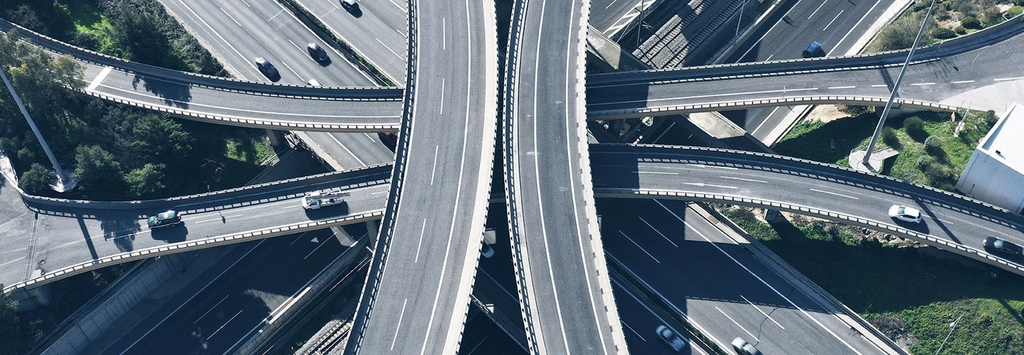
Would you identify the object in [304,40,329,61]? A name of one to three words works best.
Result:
car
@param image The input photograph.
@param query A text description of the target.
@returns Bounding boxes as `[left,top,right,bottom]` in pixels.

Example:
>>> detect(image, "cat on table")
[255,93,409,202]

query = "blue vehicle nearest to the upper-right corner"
[801,39,822,58]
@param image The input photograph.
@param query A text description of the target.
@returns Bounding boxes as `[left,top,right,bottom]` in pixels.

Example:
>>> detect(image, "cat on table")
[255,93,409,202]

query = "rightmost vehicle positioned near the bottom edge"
[727,332,764,355]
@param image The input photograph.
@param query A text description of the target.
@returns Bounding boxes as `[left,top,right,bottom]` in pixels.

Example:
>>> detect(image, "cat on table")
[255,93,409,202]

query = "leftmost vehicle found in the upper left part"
[254,55,279,77]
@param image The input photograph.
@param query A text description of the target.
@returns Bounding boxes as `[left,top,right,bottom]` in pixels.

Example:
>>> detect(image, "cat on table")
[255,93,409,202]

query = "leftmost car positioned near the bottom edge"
[651,320,687,352]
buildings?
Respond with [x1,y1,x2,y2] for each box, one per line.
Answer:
[954,94,1024,218]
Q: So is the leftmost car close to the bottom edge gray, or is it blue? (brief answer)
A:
blue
